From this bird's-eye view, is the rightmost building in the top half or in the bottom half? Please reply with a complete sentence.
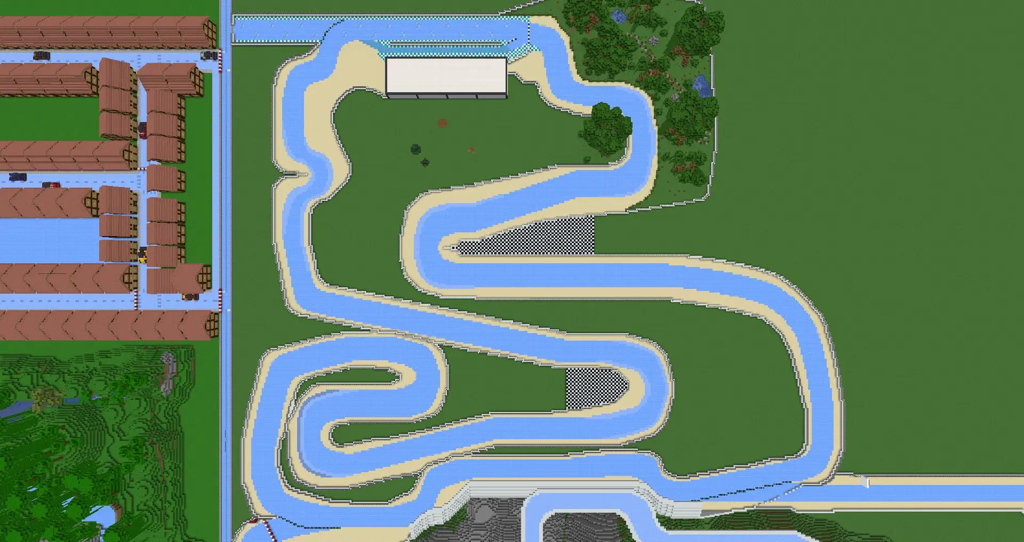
You can find the rightmost building in the top half.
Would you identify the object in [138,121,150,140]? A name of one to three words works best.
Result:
vehicle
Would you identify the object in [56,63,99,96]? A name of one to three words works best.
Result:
house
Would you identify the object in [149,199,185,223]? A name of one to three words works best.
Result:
house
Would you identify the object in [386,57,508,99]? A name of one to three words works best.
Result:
building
